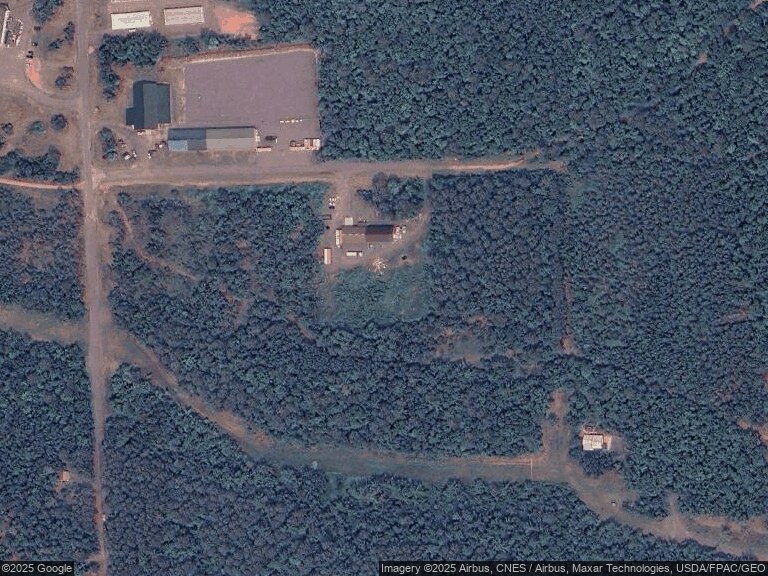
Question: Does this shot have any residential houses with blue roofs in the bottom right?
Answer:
No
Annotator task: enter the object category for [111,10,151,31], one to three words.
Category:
barn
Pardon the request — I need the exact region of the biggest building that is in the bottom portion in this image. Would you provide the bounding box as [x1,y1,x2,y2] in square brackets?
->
[584,427,611,451]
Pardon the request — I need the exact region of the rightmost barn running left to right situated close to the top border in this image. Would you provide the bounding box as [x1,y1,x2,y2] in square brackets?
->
[164,7,202,24]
